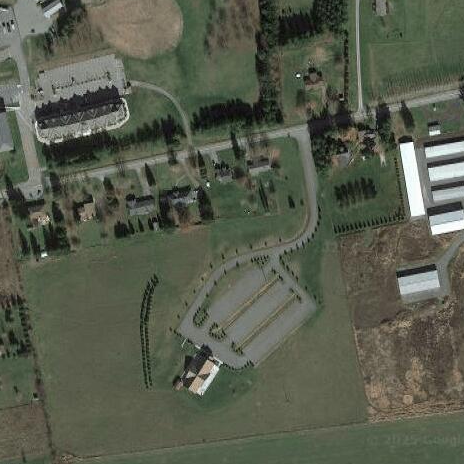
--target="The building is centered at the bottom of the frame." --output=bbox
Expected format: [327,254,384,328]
[175,345,220,397]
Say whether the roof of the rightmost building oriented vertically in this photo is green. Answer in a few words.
No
